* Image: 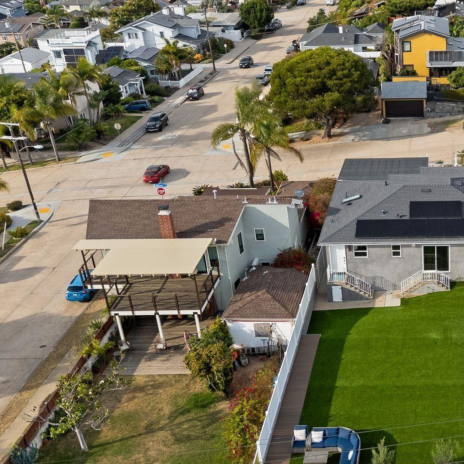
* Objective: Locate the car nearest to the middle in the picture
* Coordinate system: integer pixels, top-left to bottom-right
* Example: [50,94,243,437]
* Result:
[135,164,177,186]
